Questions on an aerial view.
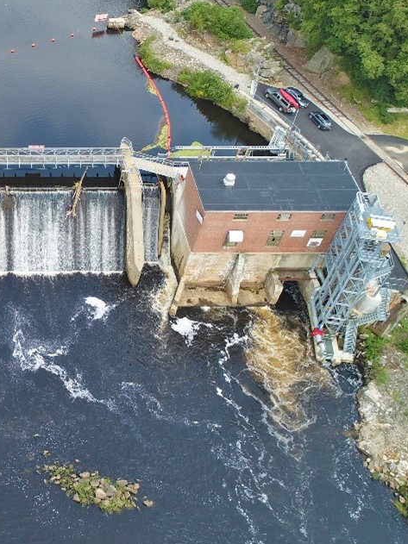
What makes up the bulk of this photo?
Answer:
water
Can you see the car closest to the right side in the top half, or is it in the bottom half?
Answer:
top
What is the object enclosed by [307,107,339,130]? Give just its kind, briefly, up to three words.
car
